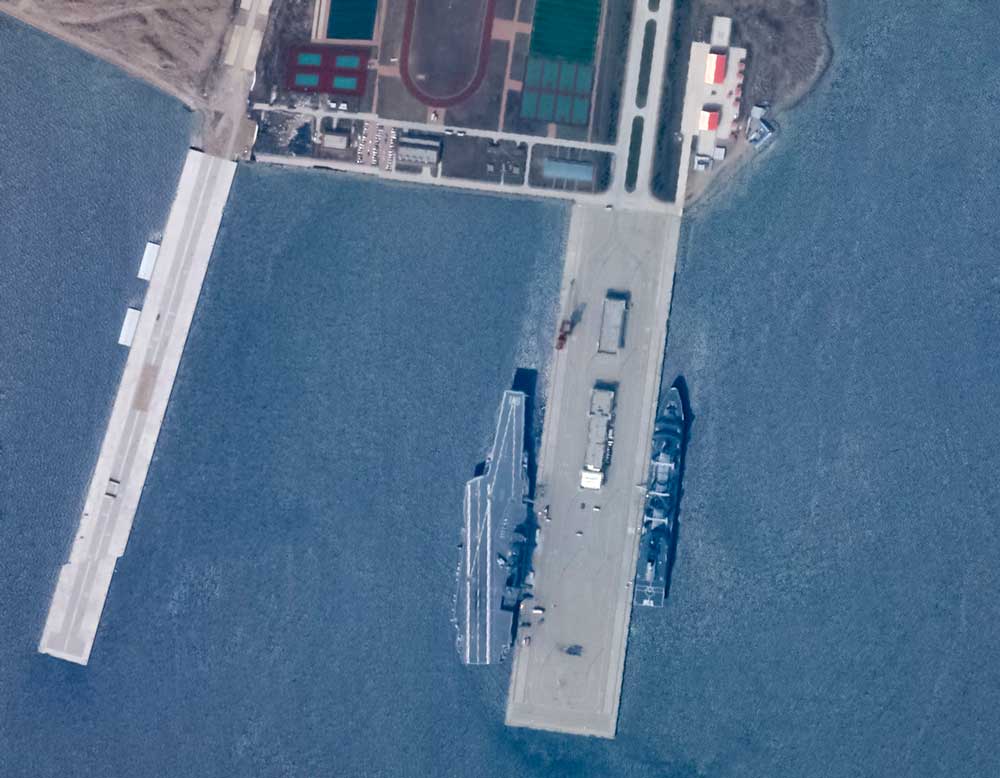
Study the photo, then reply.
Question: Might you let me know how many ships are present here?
2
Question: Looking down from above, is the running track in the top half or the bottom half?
top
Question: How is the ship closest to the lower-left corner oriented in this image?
up and down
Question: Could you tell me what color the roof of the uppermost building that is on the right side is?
white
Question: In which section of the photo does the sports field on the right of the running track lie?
top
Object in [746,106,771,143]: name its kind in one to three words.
building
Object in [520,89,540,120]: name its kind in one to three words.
sports court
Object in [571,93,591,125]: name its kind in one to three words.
sports court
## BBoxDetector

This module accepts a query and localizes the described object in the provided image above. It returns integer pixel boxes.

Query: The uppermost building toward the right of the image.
[711,16,731,47]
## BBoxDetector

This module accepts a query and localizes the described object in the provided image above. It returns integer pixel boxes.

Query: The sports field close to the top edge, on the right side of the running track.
[529,0,603,62]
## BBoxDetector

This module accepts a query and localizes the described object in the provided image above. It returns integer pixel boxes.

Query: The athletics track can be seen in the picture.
[401,0,495,107]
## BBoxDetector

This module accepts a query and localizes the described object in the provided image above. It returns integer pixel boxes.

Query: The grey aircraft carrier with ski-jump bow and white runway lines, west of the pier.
[451,391,529,664]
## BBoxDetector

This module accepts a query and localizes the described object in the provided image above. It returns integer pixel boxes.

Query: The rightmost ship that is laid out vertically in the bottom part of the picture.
[634,387,683,608]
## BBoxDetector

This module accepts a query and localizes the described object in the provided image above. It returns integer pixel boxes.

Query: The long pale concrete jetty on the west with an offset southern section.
[40,147,237,666]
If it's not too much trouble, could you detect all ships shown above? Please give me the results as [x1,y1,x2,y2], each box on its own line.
[451,391,529,664]
[634,387,683,608]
